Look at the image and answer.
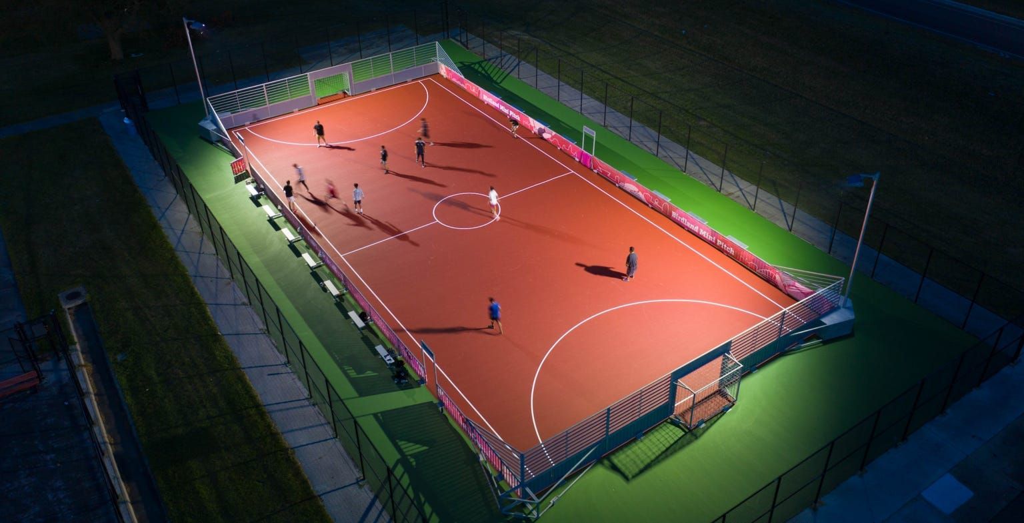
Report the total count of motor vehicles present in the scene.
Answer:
0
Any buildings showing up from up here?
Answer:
No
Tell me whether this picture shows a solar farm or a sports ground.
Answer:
sports ground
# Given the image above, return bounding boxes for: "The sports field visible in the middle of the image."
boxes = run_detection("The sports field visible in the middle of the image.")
[220,73,819,506]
